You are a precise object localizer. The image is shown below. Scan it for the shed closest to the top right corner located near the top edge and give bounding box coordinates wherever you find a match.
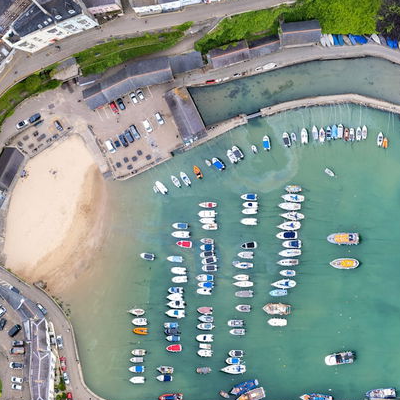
[279,19,322,51]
